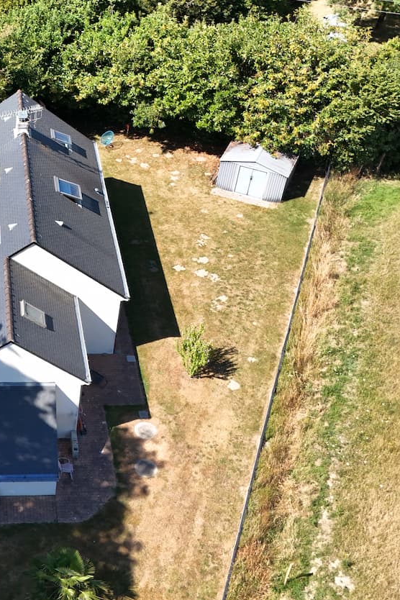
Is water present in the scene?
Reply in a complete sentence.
No, no water is visible.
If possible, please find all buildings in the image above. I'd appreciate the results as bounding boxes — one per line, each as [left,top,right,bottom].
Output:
[211,135,297,208]
[0,91,134,494]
